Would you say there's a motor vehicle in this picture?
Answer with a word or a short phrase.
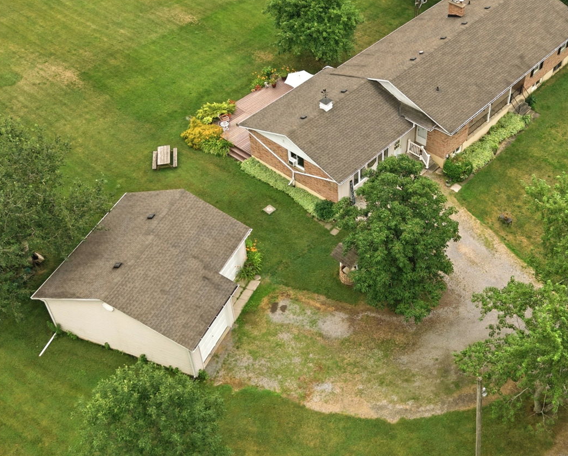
No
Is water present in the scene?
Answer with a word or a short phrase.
No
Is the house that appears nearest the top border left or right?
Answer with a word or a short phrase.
right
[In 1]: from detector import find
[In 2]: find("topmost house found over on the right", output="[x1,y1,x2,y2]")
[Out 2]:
[237,0,568,203]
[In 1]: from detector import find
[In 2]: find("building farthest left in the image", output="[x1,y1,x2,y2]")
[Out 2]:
[31,191,254,378]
